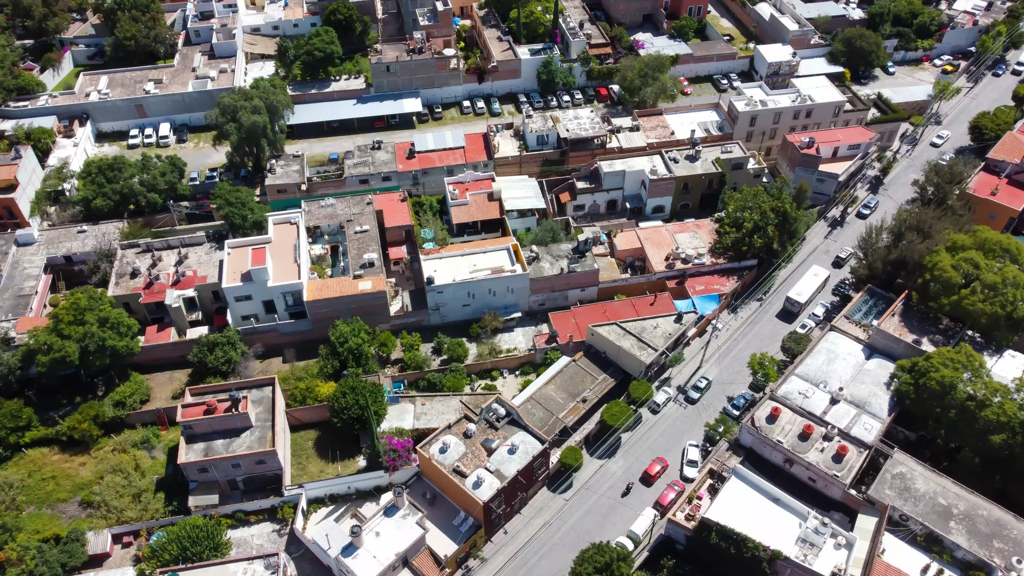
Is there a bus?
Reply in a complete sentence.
Yes, this view includes a bus.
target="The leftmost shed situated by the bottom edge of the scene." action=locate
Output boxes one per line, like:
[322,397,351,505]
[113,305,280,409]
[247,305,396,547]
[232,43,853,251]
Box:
[86,528,119,566]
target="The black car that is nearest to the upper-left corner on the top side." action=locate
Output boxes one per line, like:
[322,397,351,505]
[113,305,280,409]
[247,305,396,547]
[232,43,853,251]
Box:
[176,125,189,142]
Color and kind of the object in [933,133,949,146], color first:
white vehicle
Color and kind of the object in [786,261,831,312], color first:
white bus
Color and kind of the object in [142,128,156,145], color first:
white car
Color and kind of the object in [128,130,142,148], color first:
white car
